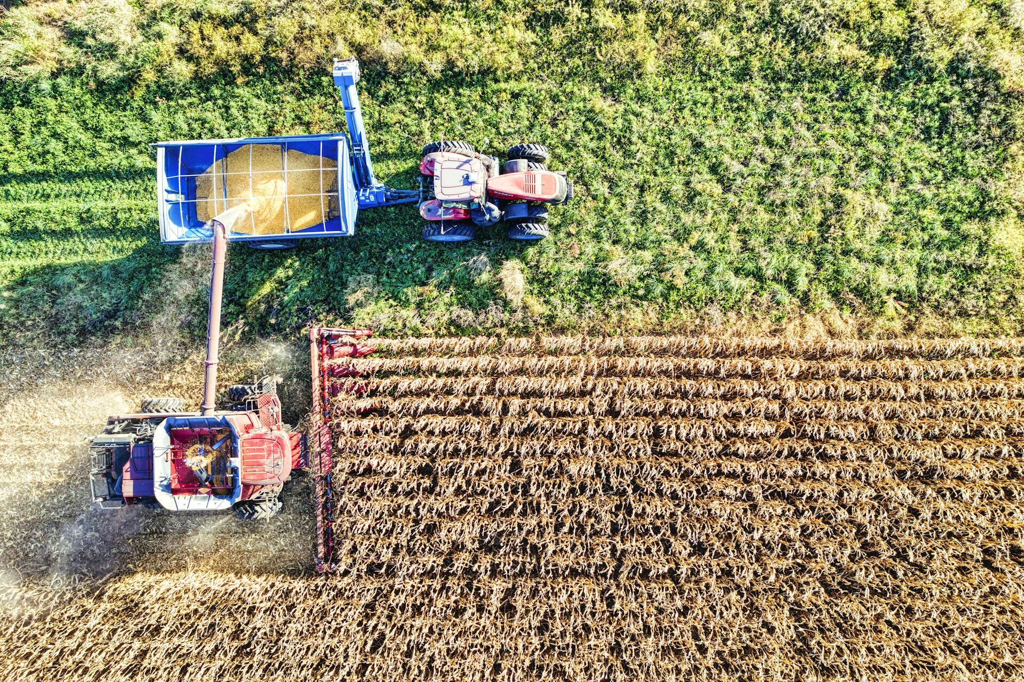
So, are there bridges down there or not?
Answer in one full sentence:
No, there appears to be no bridge in this shot.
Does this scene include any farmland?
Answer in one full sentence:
Yes, there is farmland in the image.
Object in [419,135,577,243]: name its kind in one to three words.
work vehicle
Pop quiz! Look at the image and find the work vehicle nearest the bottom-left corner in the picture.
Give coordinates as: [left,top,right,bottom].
[83,220,393,574]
